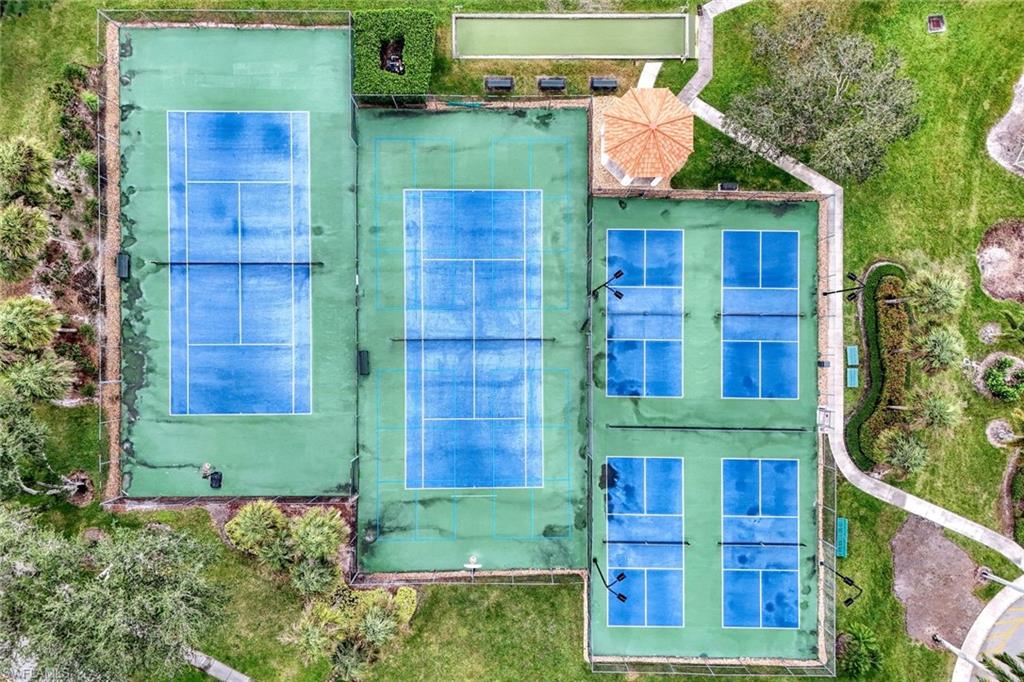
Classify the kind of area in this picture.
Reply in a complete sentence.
This image shows a sports ground.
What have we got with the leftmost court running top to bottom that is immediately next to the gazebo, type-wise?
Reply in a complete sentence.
The leftmost court running top to bottom that is immediately next to the gazebo appears to be a tennis court.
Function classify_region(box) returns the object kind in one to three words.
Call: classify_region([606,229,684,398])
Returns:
sports court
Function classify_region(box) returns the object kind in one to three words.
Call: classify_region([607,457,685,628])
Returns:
sports court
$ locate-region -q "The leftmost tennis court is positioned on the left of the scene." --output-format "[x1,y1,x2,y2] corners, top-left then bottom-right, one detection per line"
[119,27,357,497]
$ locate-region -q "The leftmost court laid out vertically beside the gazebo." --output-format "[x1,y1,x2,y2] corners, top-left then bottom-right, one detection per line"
[357,107,588,574]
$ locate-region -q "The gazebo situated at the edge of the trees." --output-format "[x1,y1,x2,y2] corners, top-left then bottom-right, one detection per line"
[599,89,693,185]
